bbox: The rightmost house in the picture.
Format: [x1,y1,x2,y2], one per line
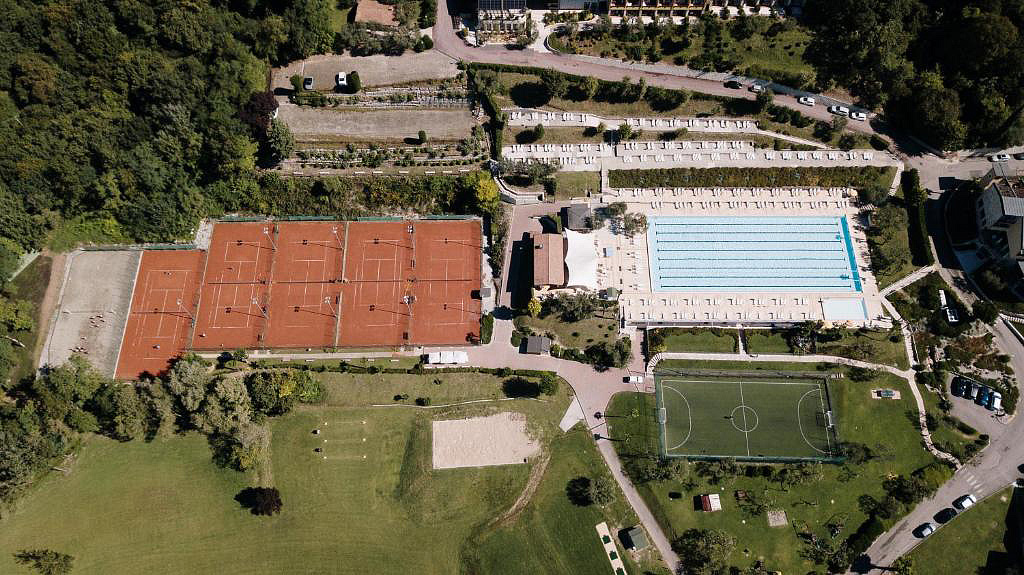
[968,158,1024,275]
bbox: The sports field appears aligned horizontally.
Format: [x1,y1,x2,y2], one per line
[656,375,836,457]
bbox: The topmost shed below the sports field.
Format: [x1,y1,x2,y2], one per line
[699,494,722,513]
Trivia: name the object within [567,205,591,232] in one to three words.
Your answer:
building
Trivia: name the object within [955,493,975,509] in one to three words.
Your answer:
car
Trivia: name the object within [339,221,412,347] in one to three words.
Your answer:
tennis court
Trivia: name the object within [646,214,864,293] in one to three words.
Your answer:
swimming pool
